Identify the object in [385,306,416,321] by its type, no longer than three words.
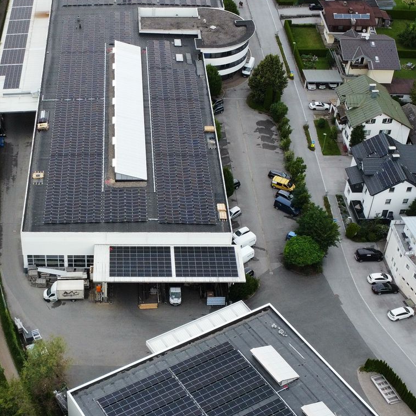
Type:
car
